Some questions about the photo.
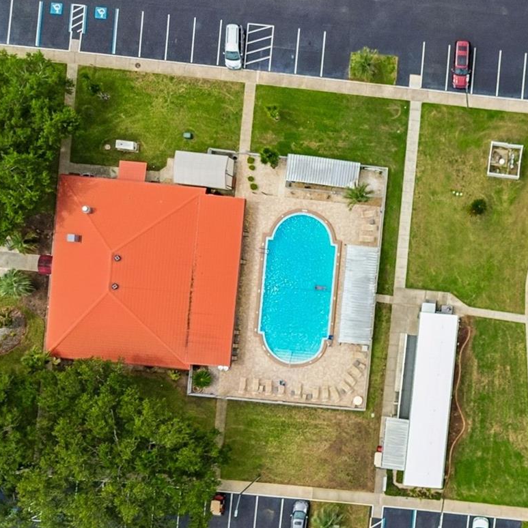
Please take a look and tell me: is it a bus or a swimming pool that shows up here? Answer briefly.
swimming pool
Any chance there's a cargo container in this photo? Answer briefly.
No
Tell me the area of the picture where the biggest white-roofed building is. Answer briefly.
bottom right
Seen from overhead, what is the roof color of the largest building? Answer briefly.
orange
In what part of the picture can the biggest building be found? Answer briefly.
left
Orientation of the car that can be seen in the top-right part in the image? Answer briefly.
vertically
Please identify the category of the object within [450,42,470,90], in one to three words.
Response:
car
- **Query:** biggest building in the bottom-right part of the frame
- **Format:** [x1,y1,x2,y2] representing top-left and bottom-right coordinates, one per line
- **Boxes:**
[382,301,459,489]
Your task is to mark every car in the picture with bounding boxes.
[290,499,310,528]
[222,23,243,69]
[473,515,489,528]
[450,42,470,90]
